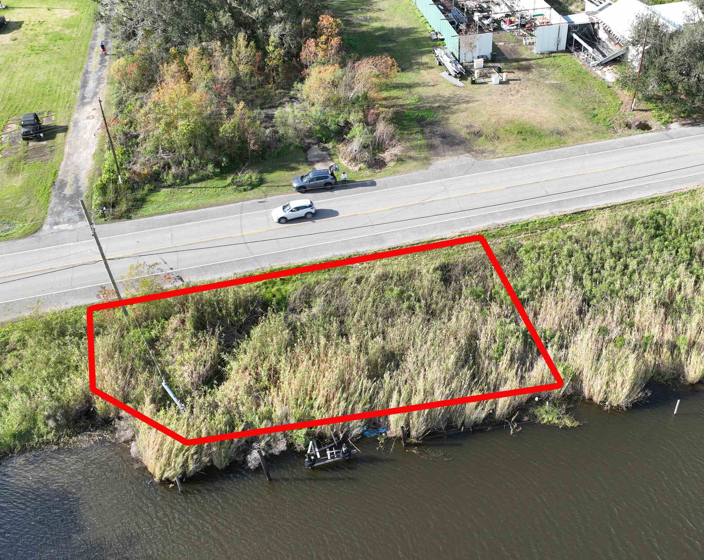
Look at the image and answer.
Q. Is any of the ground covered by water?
Yes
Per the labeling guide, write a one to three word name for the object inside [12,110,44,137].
car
